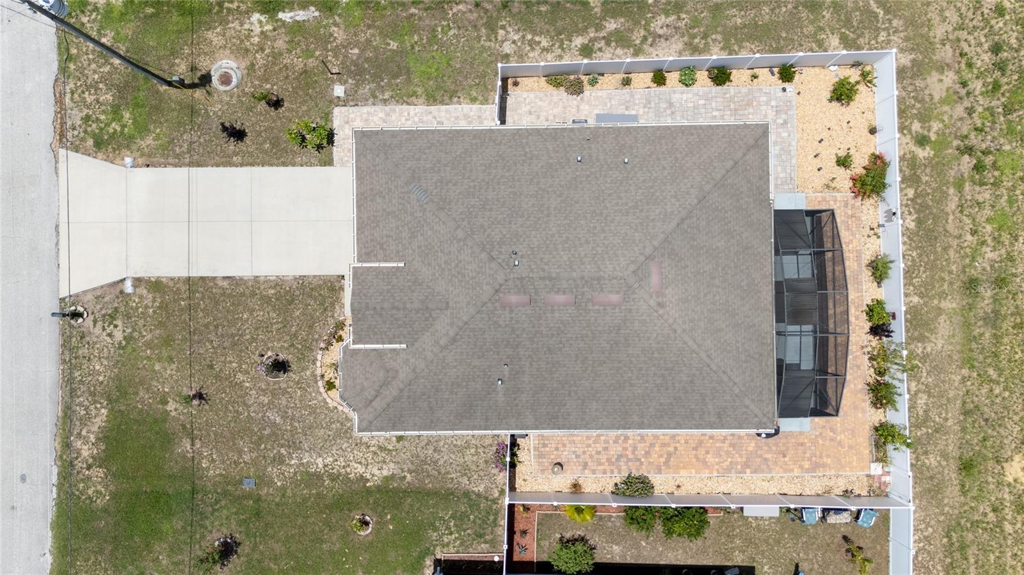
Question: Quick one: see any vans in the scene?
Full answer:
No, the picture doesn't show any van.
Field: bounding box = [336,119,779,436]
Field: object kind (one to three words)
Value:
house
